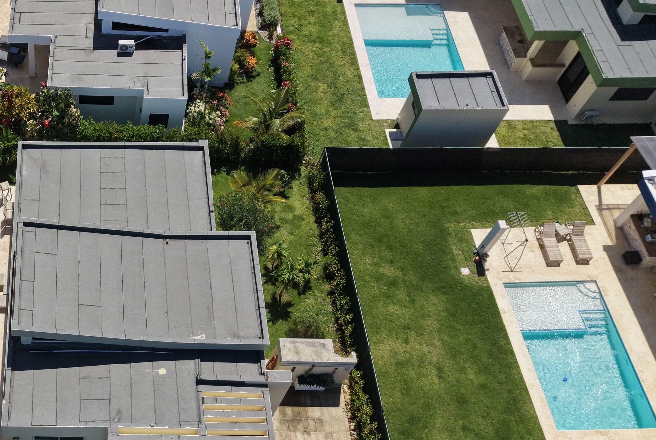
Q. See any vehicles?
No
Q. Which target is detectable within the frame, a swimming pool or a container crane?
swimming pool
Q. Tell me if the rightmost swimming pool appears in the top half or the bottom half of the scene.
bottom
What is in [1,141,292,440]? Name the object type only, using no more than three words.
house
